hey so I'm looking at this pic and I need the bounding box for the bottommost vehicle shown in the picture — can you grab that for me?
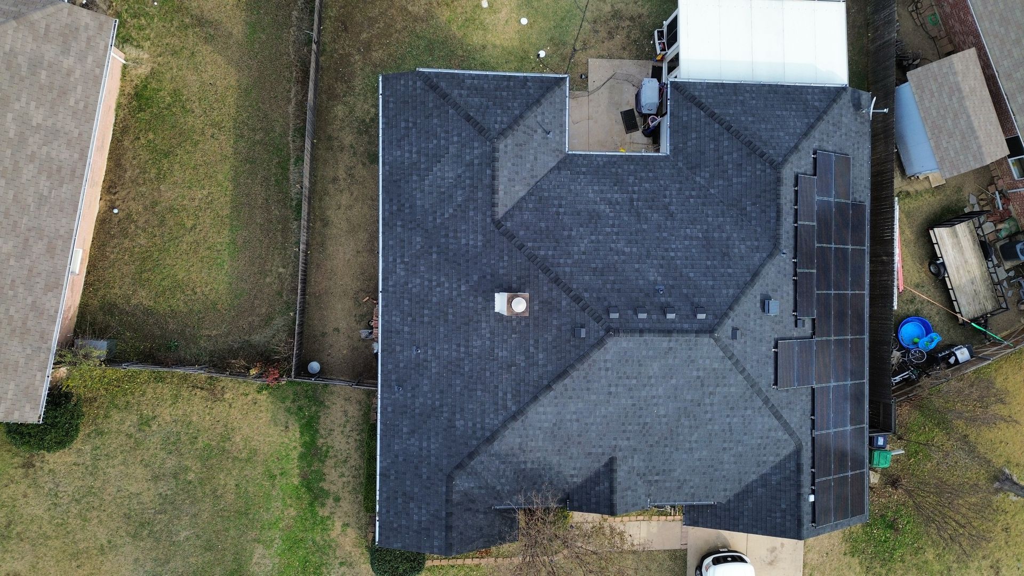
[697,546,753,576]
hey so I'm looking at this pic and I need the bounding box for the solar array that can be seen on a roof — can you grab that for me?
[774,151,868,528]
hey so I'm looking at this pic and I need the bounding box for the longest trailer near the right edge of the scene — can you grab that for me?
[928,199,1010,345]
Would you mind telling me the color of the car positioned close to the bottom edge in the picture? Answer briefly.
white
